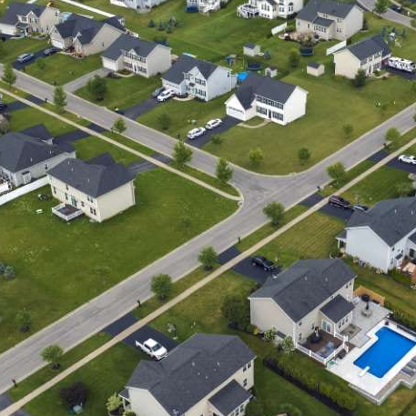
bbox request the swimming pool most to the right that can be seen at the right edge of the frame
[325,318,416,394]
